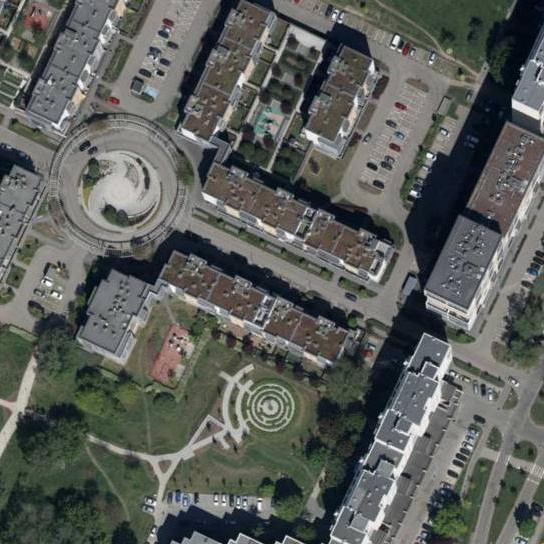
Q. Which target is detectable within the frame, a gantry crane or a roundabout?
roundabout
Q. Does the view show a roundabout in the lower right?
No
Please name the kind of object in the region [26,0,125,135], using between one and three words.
building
